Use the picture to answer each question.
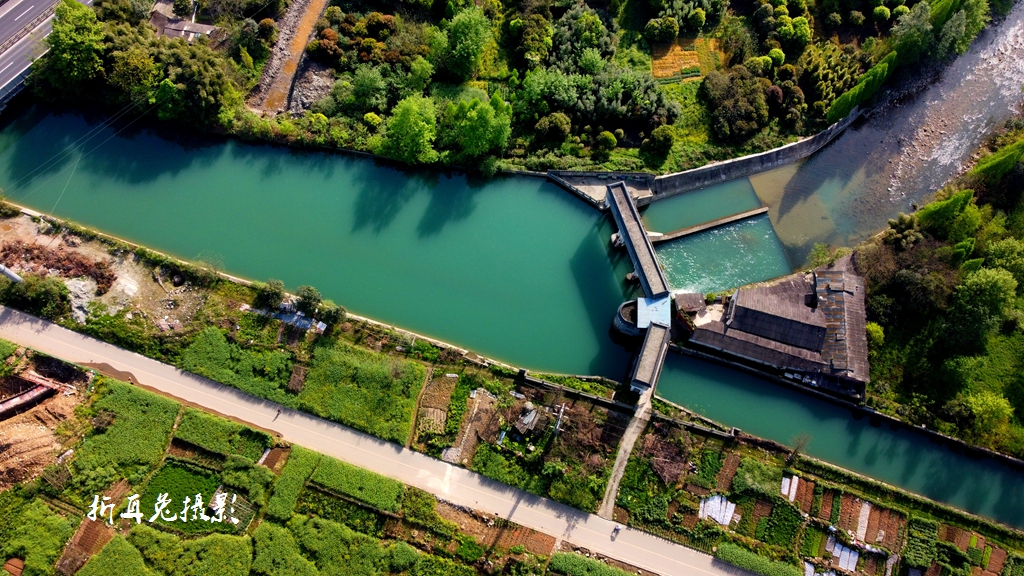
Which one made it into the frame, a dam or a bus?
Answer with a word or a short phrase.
dam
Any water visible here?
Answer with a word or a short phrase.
Yes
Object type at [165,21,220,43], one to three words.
house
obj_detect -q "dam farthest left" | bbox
[603,181,673,401]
